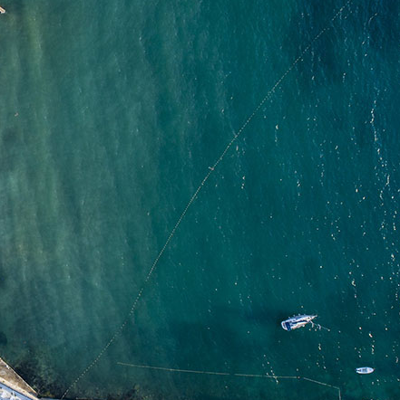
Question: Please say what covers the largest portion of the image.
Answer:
water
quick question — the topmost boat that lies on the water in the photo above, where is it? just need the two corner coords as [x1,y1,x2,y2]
[279,314,323,330]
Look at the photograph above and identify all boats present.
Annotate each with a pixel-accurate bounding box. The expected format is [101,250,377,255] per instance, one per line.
[279,314,323,330]
[354,367,374,374]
